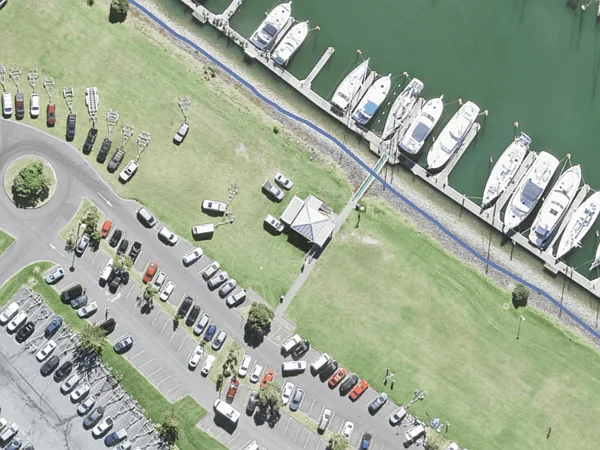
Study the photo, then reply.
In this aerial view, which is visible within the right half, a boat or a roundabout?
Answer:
boat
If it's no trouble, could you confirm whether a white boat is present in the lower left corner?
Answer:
No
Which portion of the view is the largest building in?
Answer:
center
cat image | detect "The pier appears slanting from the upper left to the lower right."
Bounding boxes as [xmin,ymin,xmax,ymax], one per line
[173,0,600,299]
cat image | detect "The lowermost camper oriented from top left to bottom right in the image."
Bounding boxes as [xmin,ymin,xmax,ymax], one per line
[212,399,241,422]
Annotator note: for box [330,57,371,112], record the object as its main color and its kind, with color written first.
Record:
white boat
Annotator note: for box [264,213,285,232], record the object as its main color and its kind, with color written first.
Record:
white vehicle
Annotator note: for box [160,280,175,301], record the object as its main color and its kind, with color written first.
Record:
white car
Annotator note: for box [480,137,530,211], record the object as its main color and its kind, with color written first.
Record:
white boat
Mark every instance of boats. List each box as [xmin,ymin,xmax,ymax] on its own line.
[380,77,425,142]
[589,238,600,271]
[399,93,445,157]
[480,137,530,211]
[248,0,292,52]
[271,19,311,67]
[527,162,582,251]
[350,71,392,126]
[503,148,560,236]
[330,57,371,112]
[555,182,600,260]
[427,97,483,172]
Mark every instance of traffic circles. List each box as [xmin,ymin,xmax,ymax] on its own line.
[3,155,57,209]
